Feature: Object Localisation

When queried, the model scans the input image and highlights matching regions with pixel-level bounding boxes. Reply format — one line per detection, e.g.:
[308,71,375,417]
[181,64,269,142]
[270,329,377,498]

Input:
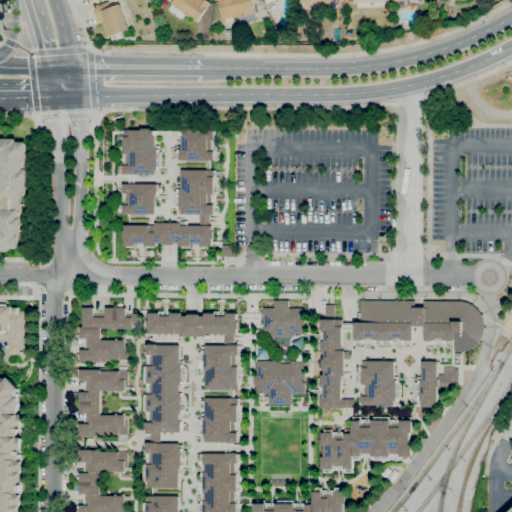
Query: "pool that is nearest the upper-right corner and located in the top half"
[398,9,418,22]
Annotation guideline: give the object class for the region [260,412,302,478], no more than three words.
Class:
sports field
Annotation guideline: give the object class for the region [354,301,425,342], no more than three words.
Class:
building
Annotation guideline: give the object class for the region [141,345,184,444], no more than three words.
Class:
building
